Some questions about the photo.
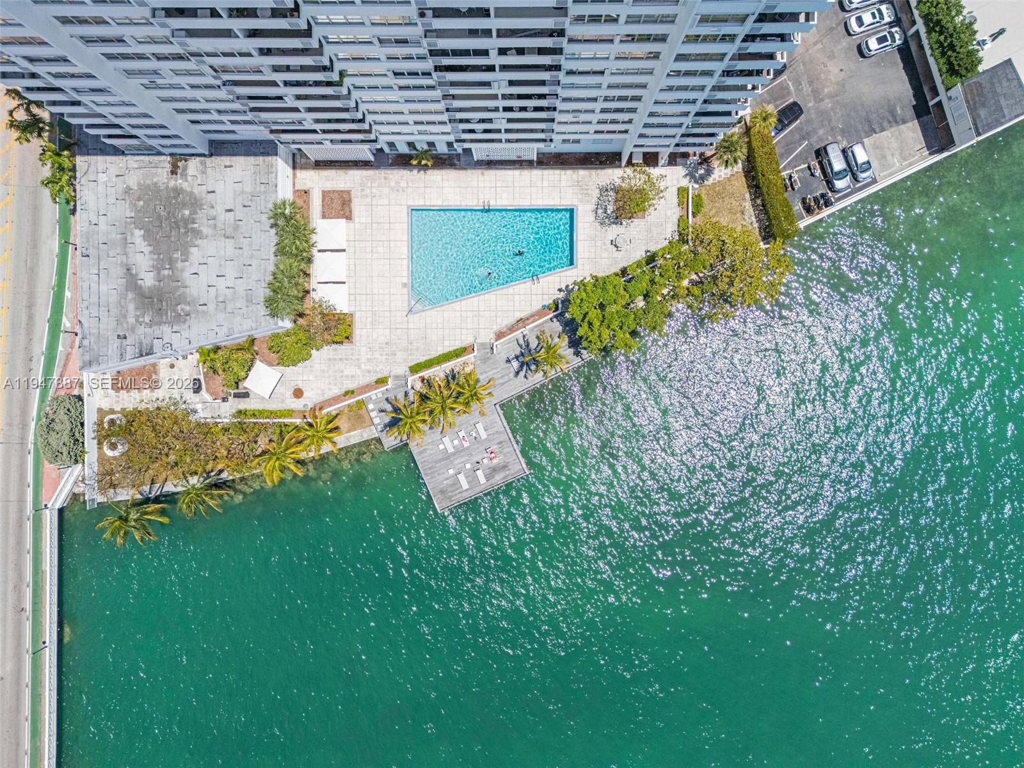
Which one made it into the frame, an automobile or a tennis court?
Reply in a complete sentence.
Visible in the photo is an automobile.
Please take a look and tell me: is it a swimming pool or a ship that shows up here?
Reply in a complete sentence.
Of the two, only a swimming pool appears.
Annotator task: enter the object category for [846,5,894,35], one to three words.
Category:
car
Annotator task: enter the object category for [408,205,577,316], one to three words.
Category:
swimming pool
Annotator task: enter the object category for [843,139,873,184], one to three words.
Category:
car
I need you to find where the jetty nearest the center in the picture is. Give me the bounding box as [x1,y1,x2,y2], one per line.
[363,310,594,512]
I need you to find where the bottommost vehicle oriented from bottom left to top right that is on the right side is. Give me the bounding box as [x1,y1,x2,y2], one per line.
[772,98,808,141]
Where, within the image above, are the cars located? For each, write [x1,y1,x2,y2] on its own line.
[772,98,808,141]
[846,5,894,35]
[818,142,852,192]
[858,26,905,59]
[843,139,873,184]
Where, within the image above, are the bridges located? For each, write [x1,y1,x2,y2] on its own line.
[0,453,83,768]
